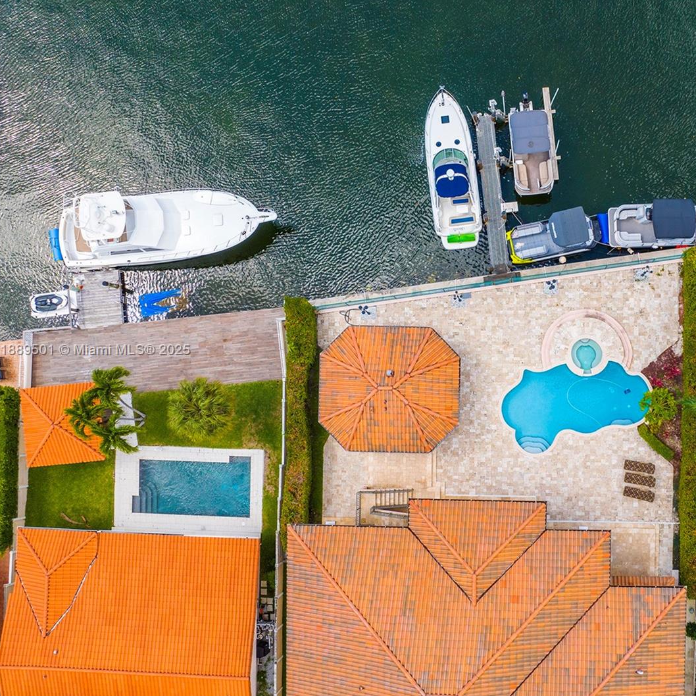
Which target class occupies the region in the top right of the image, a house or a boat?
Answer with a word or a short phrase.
boat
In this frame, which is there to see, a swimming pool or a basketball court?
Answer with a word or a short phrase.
swimming pool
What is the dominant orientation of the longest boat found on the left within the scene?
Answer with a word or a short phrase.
horizontally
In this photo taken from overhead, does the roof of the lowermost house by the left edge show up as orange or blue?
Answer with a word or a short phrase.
orange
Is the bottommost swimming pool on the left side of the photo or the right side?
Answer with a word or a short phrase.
left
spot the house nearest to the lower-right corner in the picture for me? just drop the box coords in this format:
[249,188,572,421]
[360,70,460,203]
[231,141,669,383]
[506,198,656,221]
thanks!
[285,497,689,696]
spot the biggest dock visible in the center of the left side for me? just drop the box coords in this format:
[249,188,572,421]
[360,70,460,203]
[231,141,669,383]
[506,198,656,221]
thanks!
[68,267,126,328]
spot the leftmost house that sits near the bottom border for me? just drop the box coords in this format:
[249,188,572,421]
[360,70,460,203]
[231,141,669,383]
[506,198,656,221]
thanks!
[0,525,260,696]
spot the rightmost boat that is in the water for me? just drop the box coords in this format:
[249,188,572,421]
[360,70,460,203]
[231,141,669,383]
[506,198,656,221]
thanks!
[608,199,696,248]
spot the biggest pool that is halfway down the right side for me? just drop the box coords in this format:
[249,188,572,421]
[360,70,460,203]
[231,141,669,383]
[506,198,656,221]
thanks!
[499,360,655,456]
